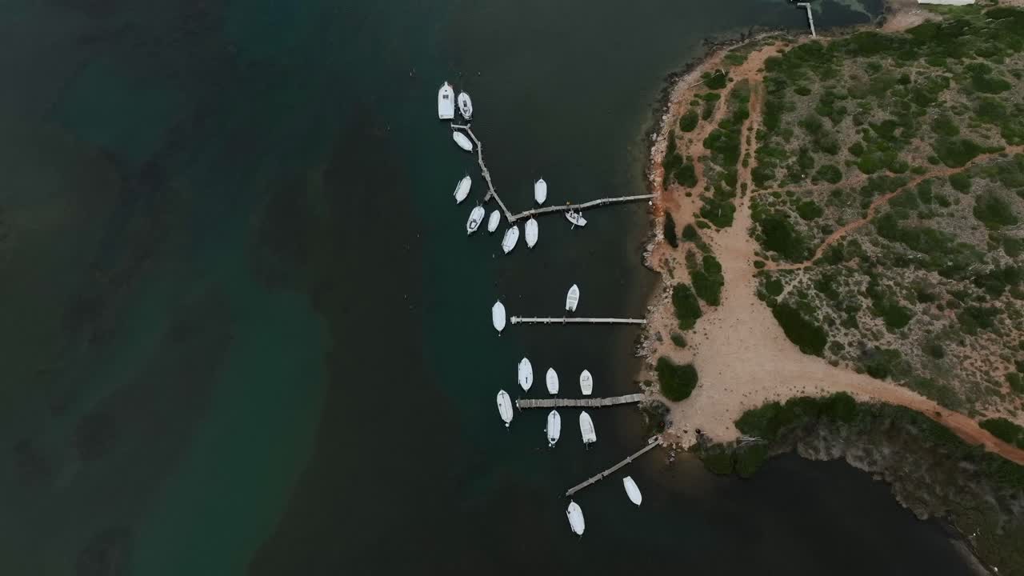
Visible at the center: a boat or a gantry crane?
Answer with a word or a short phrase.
boat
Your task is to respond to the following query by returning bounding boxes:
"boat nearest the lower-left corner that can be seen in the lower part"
[497,389,513,424]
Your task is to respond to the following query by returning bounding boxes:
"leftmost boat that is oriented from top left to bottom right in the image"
[451,129,473,155]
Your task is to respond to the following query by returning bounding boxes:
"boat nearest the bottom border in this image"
[566,495,585,536]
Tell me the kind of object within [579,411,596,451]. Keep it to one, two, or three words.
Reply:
boat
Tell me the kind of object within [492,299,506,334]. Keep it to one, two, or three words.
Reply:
boat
